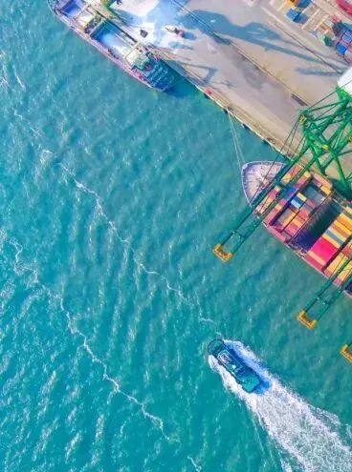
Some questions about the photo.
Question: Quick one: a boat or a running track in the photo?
boat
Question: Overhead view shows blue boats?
Yes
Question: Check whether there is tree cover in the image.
No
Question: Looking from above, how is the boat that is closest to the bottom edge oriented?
on a diagonal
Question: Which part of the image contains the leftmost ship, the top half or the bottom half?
top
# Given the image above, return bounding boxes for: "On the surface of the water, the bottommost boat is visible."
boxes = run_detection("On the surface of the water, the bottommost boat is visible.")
[207,341,260,389]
